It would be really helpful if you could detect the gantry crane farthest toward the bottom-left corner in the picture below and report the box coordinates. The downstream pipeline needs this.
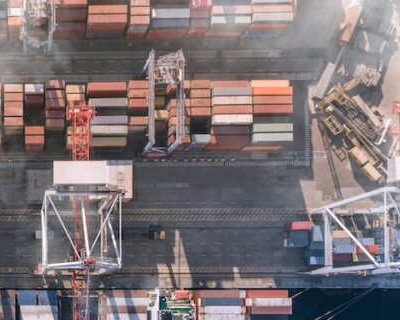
[27,101,130,320]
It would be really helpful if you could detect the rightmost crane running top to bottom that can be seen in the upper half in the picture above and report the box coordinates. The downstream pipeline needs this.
[136,49,185,156]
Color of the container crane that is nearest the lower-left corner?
white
